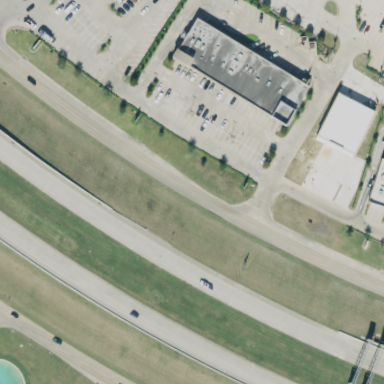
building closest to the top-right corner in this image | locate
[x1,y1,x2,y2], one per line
[318,93,376,154]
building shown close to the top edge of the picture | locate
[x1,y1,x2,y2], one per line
[172,18,309,127]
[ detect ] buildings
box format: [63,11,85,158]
[172,18,309,127]
[369,156,384,206]
[318,93,376,154]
